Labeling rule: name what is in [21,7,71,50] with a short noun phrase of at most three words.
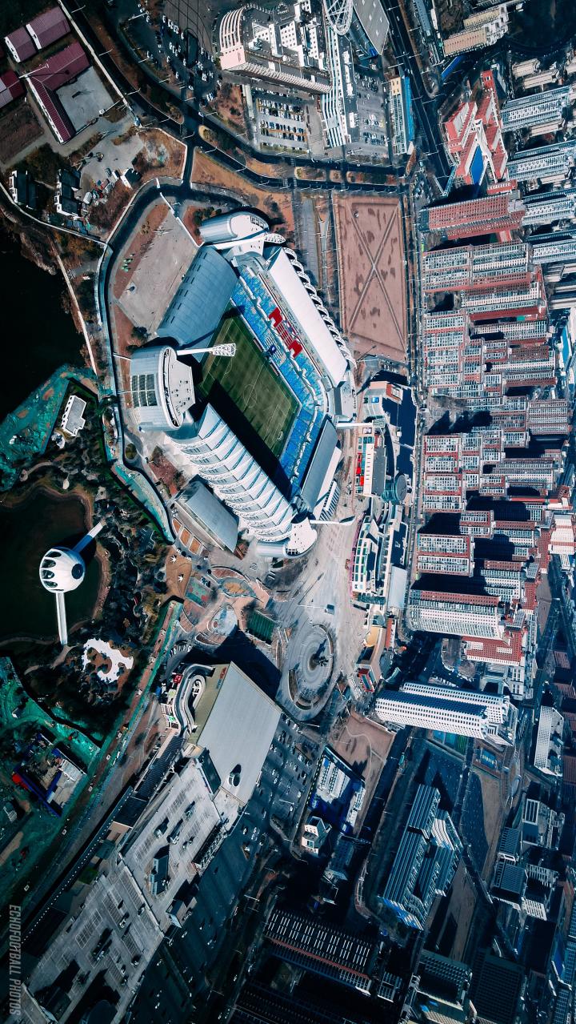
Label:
shed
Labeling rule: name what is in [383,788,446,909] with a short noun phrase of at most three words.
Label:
building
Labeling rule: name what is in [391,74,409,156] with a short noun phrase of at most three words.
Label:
building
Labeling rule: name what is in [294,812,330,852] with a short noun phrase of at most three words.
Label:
house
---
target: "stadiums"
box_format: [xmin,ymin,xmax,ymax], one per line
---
[126,210,356,559]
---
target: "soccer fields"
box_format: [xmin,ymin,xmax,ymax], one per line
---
[195,304,299,480]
